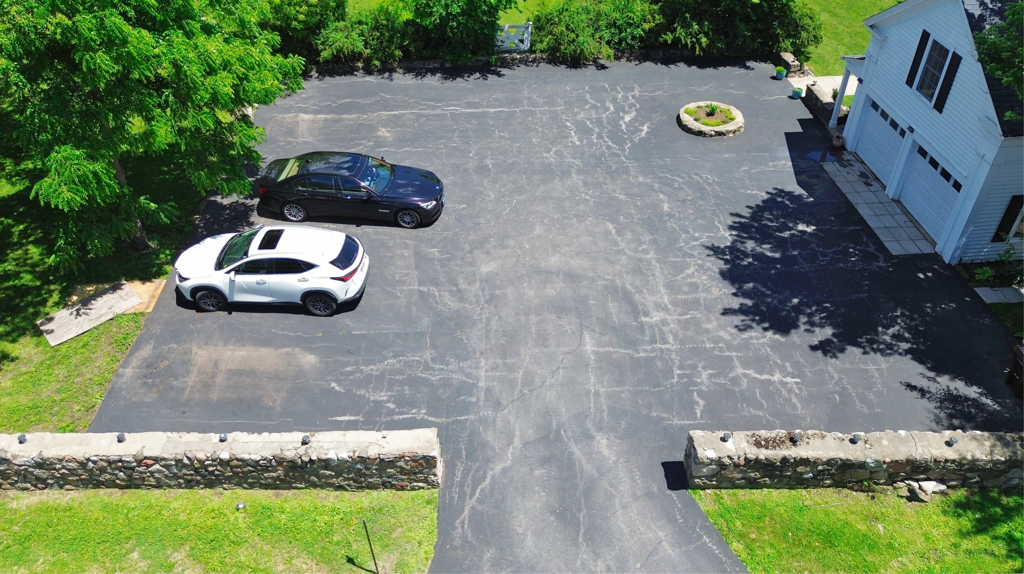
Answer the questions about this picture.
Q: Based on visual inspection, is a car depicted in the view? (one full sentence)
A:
Yes, there is a car in the image.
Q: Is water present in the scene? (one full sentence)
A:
No, the picture contains no water.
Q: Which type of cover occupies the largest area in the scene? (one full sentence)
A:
For the most part, this view shows paved ground.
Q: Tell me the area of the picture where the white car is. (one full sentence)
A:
The white car sits in the left section of the image.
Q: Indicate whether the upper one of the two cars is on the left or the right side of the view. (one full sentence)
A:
The upper one of the two cars is on the left side of the image.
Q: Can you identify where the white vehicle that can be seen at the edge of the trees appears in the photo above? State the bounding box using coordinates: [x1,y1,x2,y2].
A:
[174,220,372,315]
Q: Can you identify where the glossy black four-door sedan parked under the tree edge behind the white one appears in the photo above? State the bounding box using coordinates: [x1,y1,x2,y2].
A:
[258,151,447,227]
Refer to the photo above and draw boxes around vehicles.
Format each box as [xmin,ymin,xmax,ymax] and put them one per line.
[174,220,372,315]
[258,151,447,227]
